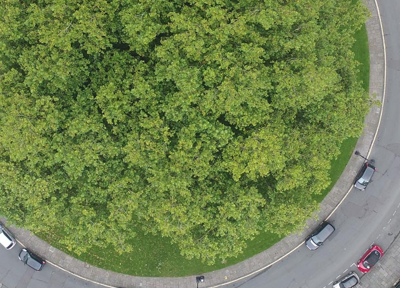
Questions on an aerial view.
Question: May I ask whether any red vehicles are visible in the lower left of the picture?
No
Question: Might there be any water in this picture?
No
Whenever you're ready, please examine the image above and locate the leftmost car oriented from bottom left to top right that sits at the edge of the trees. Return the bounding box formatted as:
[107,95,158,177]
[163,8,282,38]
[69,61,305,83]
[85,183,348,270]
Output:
[304,220,337,250]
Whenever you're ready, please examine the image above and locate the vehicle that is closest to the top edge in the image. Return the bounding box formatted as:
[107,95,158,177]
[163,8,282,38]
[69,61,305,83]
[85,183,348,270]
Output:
[352,161,378,191]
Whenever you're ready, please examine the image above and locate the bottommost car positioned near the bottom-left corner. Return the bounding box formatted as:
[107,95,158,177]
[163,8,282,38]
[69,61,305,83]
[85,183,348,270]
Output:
[18,247,46,272]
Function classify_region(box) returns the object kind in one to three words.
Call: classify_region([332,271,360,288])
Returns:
car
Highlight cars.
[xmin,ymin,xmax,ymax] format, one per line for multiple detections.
[304,220,337,250]
[18,247,46,272]
[352,161,378,191]
[0,221,17,250]
[356,244,384,273]
[332,271,360,288]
